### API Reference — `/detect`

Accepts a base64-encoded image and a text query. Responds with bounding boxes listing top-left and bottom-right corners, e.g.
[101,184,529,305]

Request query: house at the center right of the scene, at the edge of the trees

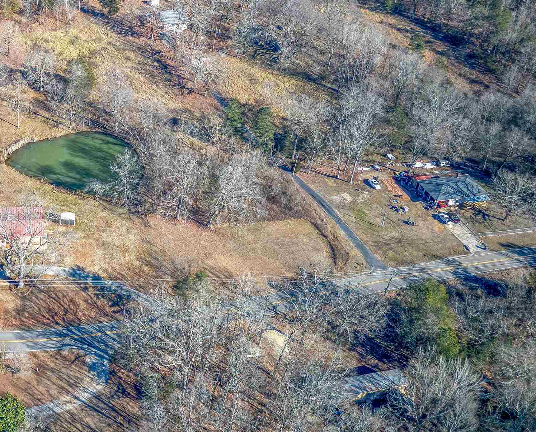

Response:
[412,174,494,210]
